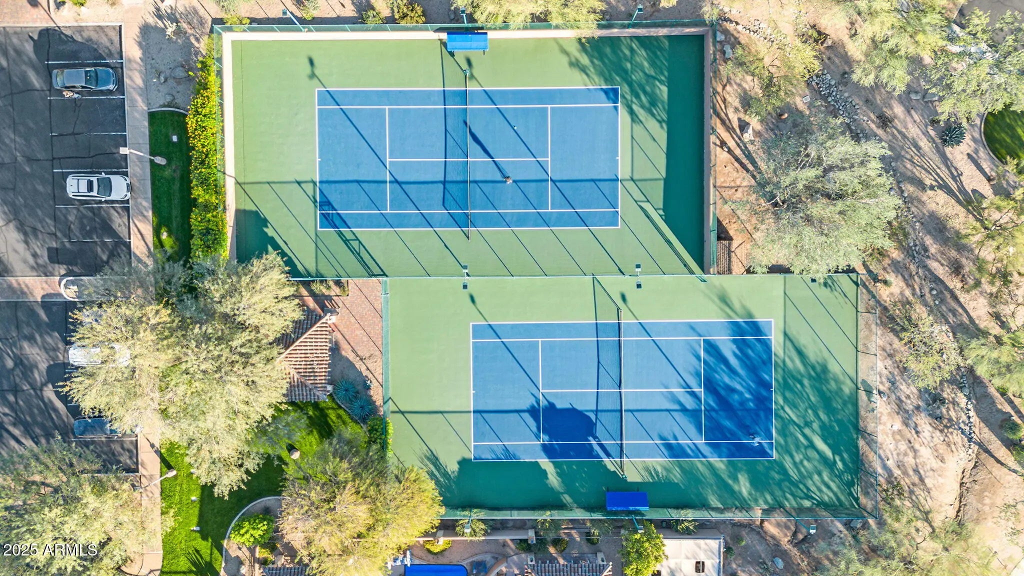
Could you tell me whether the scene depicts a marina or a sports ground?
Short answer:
sports ground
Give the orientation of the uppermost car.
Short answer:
horizontally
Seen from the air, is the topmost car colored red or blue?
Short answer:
blue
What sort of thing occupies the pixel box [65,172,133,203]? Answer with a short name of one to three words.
car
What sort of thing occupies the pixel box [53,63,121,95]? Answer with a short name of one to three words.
car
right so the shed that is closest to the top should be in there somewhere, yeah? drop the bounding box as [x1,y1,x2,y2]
[715,239,746,273]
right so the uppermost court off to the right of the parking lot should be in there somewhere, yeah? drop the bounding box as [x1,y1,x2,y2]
[233,37,705,277]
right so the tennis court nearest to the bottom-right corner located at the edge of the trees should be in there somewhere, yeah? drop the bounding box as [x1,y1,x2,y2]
[389,274,860,510]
